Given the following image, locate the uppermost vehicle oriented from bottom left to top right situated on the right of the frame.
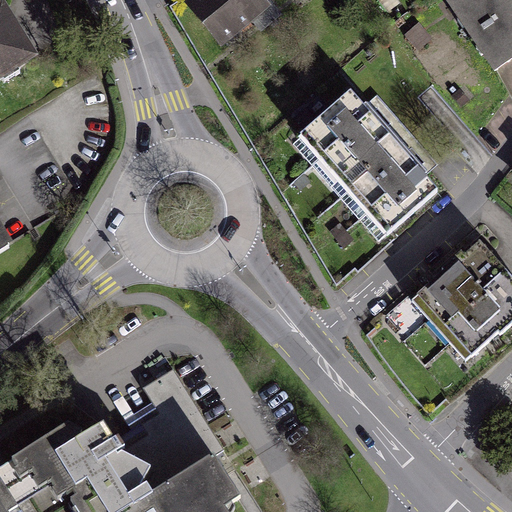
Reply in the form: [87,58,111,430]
[432,194,452,212]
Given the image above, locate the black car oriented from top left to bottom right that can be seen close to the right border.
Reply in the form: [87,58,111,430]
[479,128,500,148]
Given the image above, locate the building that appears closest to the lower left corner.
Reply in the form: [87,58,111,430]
[0,370,242,512]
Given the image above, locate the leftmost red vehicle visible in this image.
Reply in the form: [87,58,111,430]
[6,220,24,236]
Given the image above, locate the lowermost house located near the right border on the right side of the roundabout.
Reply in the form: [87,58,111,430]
[385,240,512,361]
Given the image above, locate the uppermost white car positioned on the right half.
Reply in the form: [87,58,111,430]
[369,299,388,316]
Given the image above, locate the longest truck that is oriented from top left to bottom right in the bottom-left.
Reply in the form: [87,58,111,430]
[105,384,132,419]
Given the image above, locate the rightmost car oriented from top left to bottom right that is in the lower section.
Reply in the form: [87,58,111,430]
[358,425,376,448]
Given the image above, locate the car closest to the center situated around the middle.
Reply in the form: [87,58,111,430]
[222,220,240,241]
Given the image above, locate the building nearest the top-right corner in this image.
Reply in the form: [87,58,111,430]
[444,0,512,70]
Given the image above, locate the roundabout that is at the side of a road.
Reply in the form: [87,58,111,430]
[110,137,261,287]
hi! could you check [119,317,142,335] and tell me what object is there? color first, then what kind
white car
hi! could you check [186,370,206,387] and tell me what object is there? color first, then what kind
black car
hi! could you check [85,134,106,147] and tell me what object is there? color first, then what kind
gray vehicle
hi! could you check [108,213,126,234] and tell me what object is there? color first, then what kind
white car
